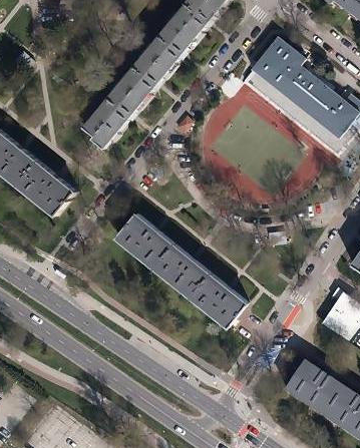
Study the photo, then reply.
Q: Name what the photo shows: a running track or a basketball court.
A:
running track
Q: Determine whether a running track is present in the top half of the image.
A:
Yes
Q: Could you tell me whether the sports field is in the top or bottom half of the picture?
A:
top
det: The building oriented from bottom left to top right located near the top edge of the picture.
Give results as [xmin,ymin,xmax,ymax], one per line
[82,0,232,151]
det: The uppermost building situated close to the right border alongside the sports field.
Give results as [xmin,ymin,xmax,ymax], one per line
[253,37,360,139]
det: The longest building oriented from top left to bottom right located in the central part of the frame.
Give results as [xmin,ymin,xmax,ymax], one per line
[115,214,248,330]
